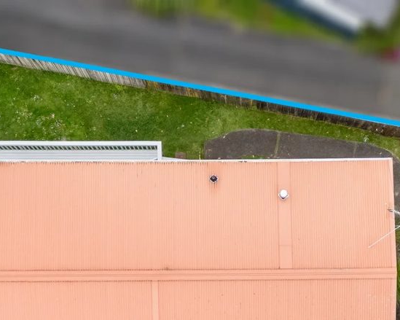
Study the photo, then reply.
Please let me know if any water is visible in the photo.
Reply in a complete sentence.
No, no water is visible.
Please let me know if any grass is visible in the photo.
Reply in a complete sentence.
Yes, the picture does contain grass.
